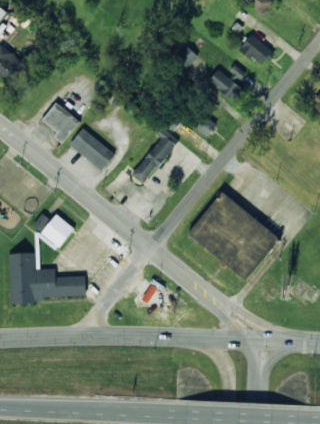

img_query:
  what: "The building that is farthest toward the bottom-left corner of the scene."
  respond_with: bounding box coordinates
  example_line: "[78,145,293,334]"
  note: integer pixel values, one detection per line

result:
[10,253,88,306]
